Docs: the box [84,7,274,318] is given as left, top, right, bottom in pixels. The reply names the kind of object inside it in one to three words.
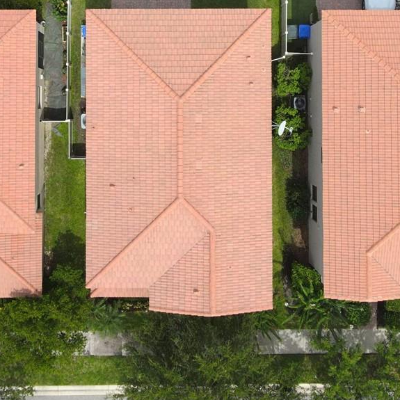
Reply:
house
